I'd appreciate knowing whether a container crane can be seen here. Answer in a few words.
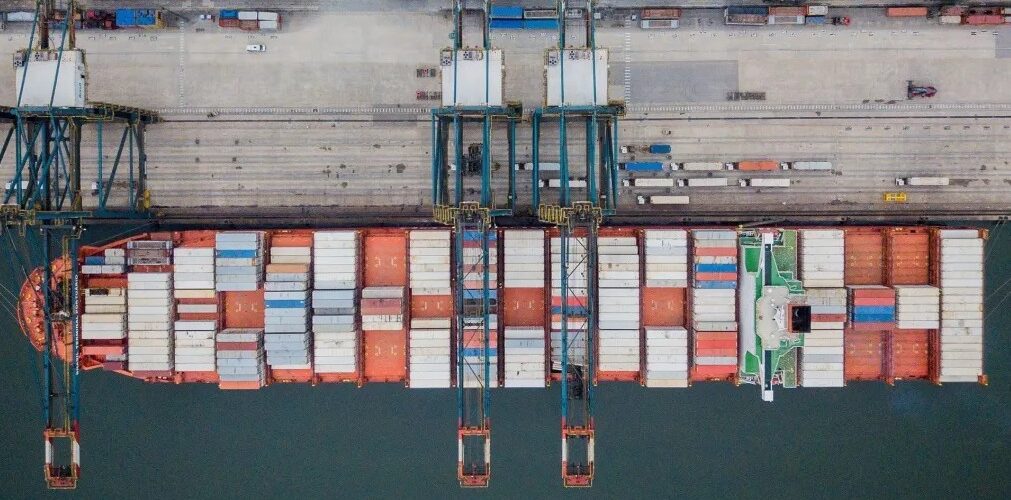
Yes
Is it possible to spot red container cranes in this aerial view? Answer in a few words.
No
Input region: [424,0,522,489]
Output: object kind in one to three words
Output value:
container crane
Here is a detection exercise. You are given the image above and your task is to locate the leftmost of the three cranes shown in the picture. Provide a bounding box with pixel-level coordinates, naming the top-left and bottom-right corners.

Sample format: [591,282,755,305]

[0,0,173,491]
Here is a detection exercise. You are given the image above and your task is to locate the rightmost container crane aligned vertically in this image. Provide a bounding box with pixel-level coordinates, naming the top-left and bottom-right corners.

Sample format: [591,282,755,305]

[528,0,627,488]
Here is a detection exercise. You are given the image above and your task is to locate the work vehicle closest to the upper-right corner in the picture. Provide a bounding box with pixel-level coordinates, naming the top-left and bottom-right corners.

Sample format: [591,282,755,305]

[909,78,942,98]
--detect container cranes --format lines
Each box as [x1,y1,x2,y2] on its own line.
[424,0,522,489]
[0,0,173,491]
[528,0,627,488]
